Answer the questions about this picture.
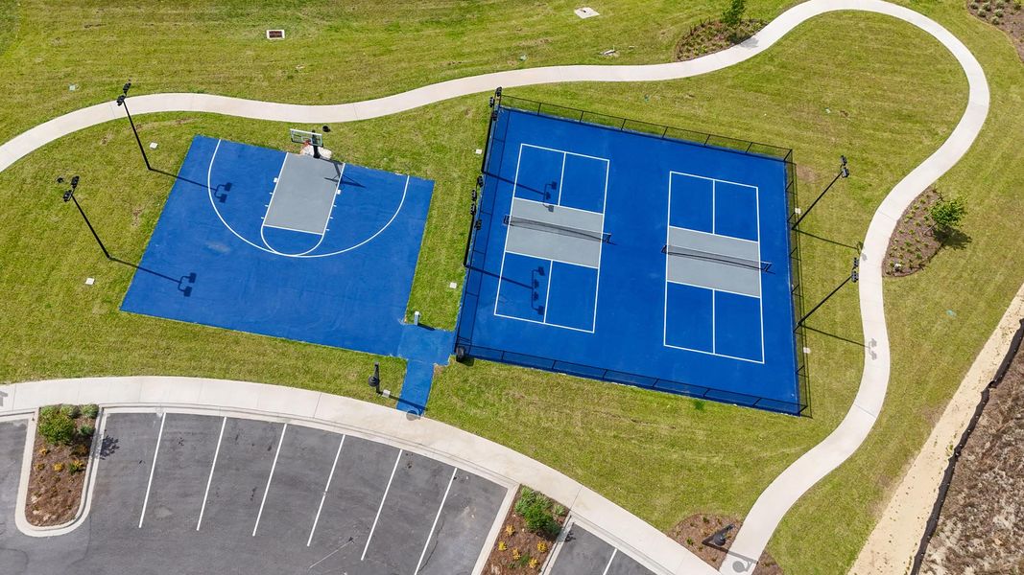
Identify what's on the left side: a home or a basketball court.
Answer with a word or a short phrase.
basketball court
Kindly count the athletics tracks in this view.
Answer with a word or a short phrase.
0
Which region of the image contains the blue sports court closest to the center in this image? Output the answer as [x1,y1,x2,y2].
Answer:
[452,104,642,387]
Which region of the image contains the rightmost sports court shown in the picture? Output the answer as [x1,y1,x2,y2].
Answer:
[626,131,803,419]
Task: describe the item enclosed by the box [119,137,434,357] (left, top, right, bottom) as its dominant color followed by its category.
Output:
blue basketball court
